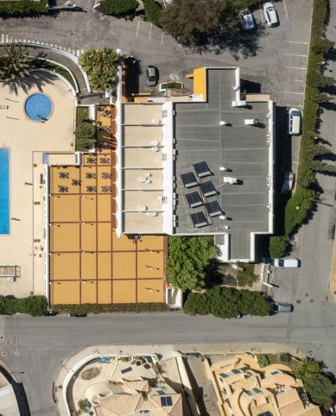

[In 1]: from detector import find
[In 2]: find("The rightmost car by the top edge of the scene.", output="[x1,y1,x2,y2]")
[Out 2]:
[261,2,278,27]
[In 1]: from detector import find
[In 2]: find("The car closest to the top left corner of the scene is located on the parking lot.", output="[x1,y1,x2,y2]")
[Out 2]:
[145,64,157,88]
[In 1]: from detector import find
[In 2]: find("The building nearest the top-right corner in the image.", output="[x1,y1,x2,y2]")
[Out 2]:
[110,67,274,261]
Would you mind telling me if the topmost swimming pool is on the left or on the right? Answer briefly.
left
